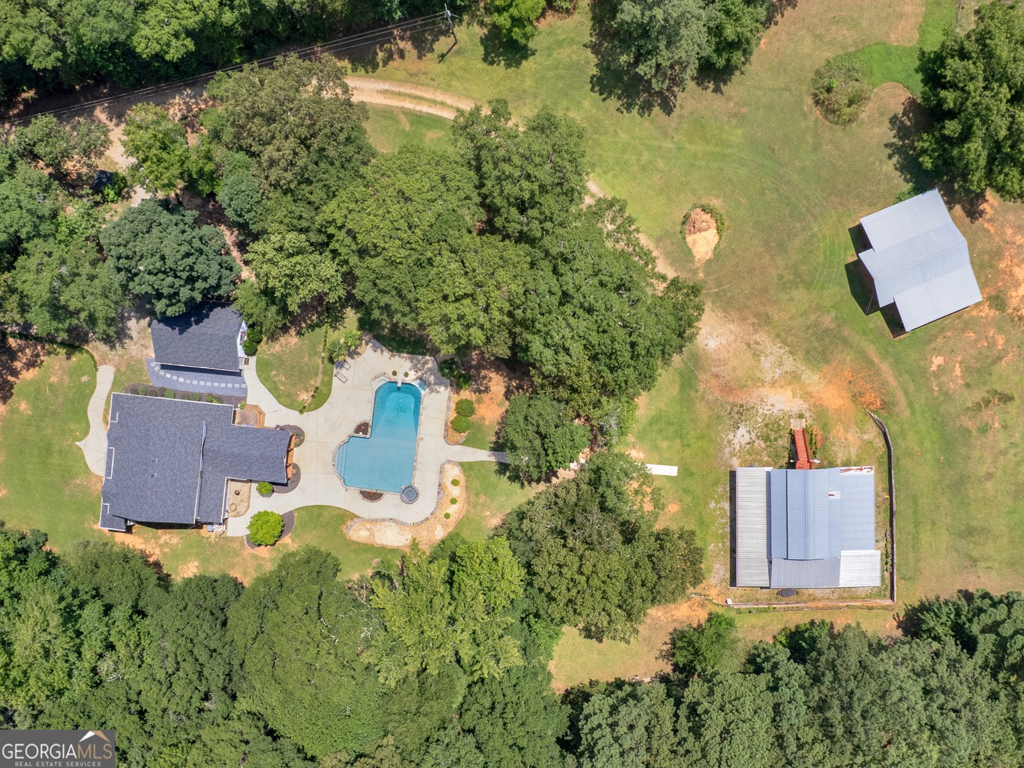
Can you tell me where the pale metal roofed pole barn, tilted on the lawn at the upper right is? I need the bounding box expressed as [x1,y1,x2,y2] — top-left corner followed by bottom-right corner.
[853,188,982,331]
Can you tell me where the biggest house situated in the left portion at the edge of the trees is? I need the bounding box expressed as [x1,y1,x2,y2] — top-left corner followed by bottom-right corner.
[100,392,297,532]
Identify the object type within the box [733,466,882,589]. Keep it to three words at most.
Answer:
building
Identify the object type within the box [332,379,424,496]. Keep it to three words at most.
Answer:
swimming pool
